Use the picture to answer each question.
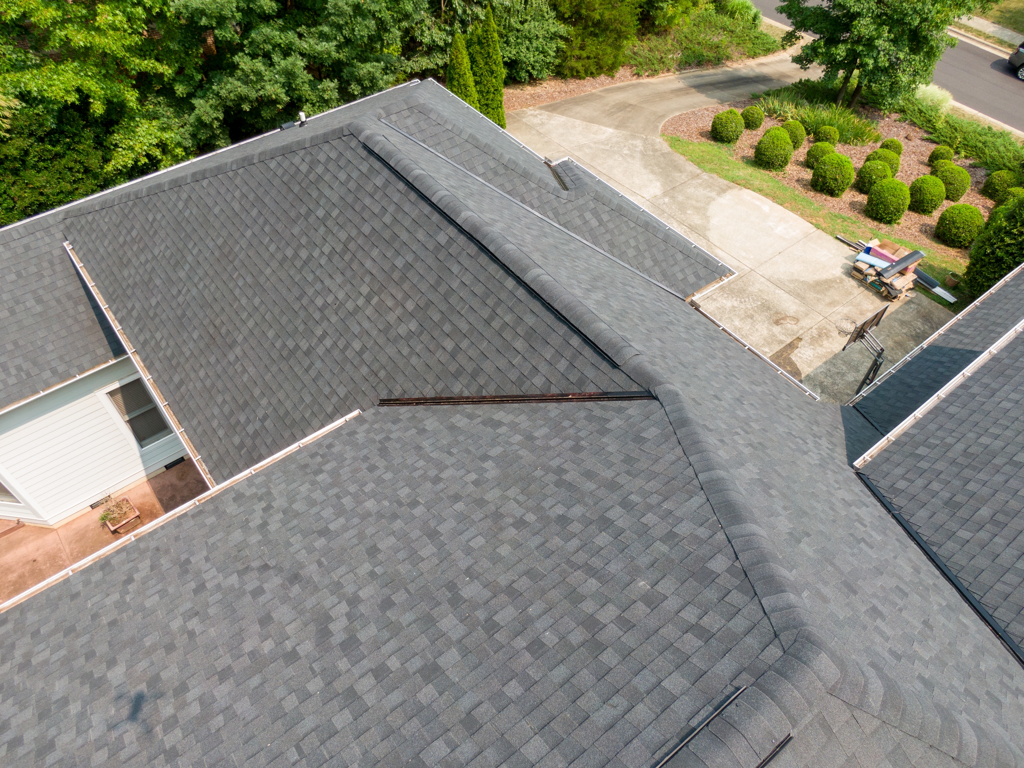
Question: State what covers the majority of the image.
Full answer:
For the most part, this view shows buildings.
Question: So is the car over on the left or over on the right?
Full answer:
The car is on the right side of the image.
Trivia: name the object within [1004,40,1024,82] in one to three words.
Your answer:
car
